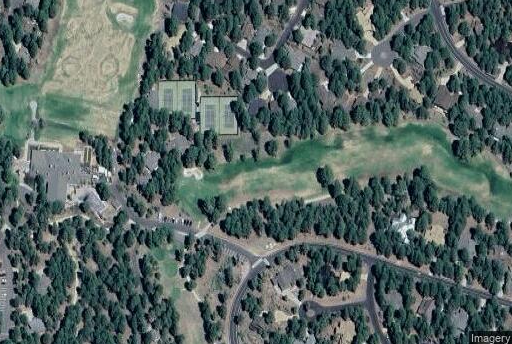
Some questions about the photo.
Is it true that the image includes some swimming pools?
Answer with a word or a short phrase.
No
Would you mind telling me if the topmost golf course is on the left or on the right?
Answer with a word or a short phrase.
right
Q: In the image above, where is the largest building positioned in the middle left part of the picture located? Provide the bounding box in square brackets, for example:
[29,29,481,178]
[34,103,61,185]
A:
[31,150,93,203]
